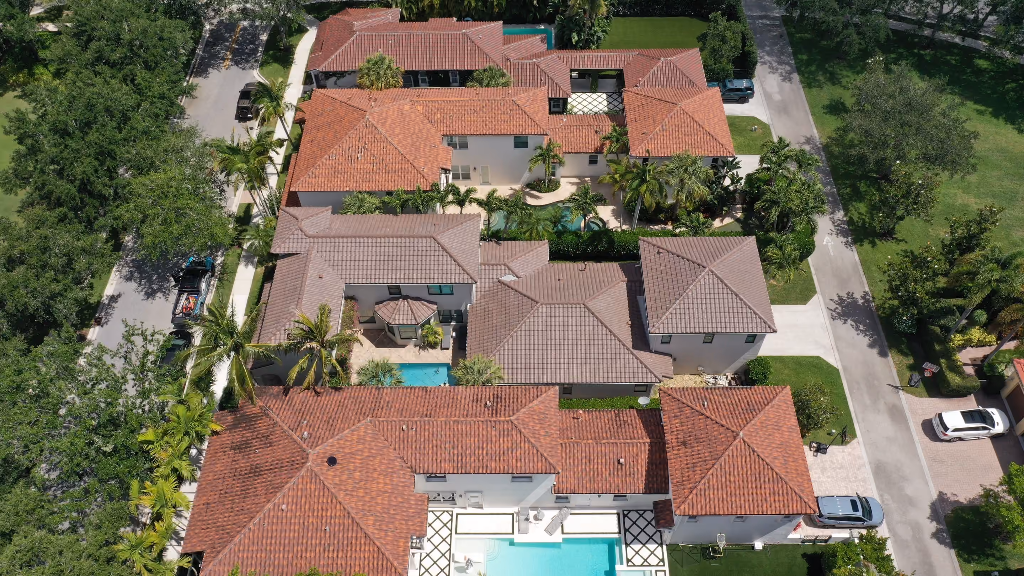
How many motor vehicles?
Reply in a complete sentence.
Looking from above, you can make out 6 motor vehicles.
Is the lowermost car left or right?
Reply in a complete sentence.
The lowermost car is on the right side of the image.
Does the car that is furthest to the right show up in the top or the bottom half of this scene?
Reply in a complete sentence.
The car that is furthest to the right sits in the bottom half of the picture.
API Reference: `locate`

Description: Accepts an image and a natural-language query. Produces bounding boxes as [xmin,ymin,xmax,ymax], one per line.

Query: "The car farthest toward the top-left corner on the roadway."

[234,83,263,115]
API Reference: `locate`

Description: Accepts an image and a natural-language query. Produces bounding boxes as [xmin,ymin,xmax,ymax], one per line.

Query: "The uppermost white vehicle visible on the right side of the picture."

[937,404,1011,441]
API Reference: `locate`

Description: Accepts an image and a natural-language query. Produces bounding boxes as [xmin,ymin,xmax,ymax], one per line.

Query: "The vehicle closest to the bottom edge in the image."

[809,492,885,528]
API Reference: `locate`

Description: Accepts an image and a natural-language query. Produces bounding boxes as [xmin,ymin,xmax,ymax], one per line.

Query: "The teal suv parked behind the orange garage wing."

[708,77,757,103]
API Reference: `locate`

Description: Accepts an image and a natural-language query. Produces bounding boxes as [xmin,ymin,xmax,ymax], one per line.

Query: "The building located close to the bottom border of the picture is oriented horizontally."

[182,385,819,576]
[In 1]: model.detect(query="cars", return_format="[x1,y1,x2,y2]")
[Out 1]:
[809,492,885,528]
[708,77,757,103]
[156,331,189,382]
[937,404,1011,441]
[234,83,263,115]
